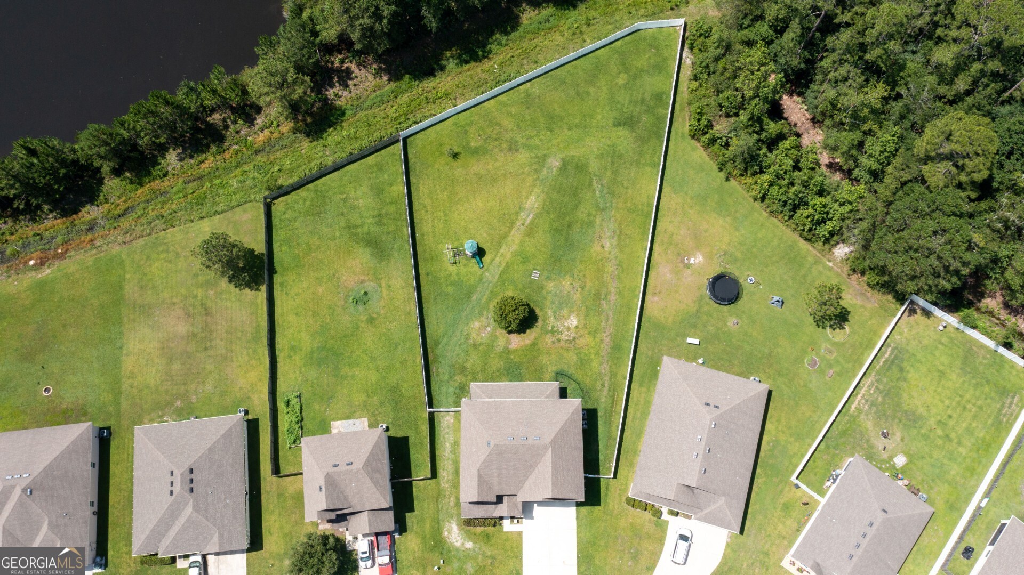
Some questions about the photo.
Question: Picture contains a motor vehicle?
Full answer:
Yes, there's a motor vehicle down there.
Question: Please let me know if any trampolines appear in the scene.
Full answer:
Yes, the image includes a trampoline.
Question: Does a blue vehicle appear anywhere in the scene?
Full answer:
No, no blue vehicle can be seen from above.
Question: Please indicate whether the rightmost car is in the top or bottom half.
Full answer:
It is in the bottom half that the rightmost car appears.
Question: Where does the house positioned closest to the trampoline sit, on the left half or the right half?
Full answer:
It is on the right.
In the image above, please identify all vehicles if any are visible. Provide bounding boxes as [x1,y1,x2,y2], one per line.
[186,552,206,575]
[373,533,395,575]
[670,526,693,566]
[356,537,375,571]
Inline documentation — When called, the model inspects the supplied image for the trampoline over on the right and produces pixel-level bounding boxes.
[705,273,743,309]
